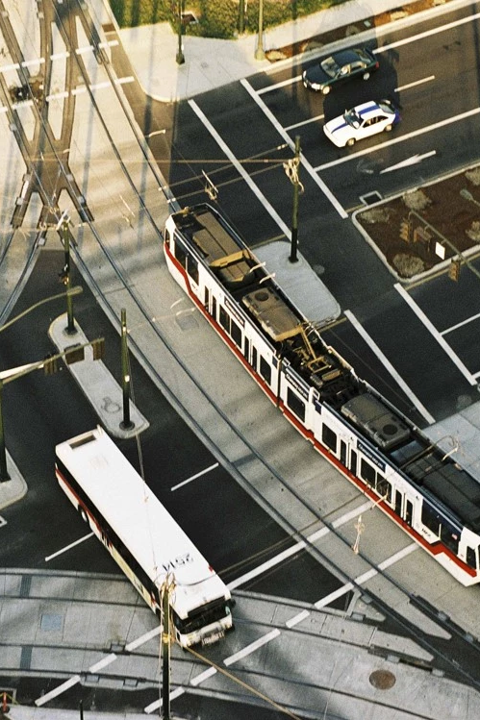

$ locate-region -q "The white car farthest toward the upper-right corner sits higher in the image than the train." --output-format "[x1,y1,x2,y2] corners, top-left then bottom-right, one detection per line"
[321,104,401,151]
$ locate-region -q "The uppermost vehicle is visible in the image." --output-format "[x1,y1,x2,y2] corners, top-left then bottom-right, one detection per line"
[303,50,383,95]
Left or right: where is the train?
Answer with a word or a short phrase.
right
